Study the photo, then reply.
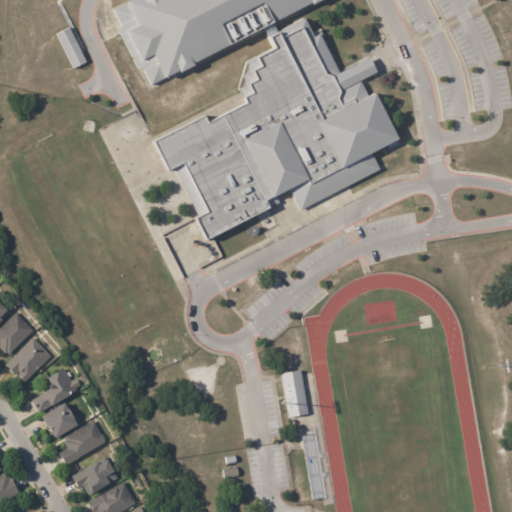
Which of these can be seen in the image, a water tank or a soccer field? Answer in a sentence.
The one in the frame is a soccer field.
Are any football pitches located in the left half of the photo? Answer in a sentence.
Yes, a football pitch shows up in the left half of the photo.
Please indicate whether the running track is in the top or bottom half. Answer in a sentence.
You can find the running track in the bottom half.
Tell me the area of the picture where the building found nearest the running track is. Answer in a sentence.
Look in the bottom portion of the view to spot the building found nearest the running track.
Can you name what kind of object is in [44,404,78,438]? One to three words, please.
house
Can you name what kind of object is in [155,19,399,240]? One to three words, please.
building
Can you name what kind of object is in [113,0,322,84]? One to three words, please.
building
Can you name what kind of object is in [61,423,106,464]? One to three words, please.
house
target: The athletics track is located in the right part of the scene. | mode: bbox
[304,272,492,512]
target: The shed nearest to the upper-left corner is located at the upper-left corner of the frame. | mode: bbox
[58,28,86,68]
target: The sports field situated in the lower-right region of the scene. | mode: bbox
[326,288,475,512]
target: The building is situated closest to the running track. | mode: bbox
[282,370,309,418]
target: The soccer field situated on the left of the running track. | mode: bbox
[20,128,170,346]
